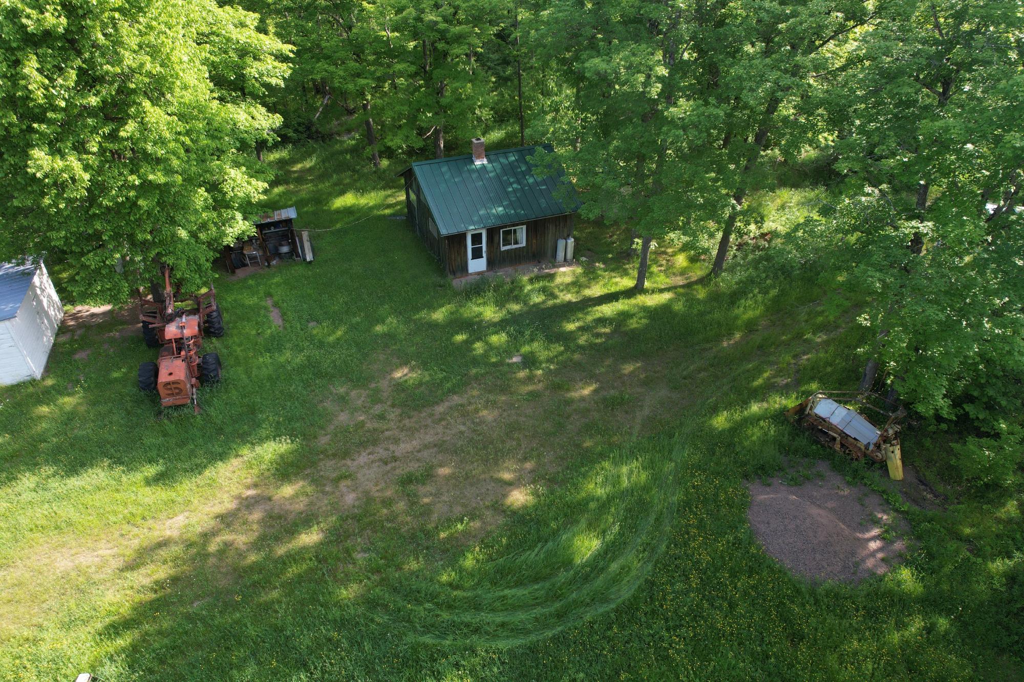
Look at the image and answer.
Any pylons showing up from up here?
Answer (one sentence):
No, no pylon is visible in the view.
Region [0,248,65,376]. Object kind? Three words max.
shed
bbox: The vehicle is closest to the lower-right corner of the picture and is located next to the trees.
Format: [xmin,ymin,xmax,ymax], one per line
[783,393,907,487]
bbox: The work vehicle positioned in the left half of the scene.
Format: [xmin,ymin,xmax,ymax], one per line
[134,255,228,408]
